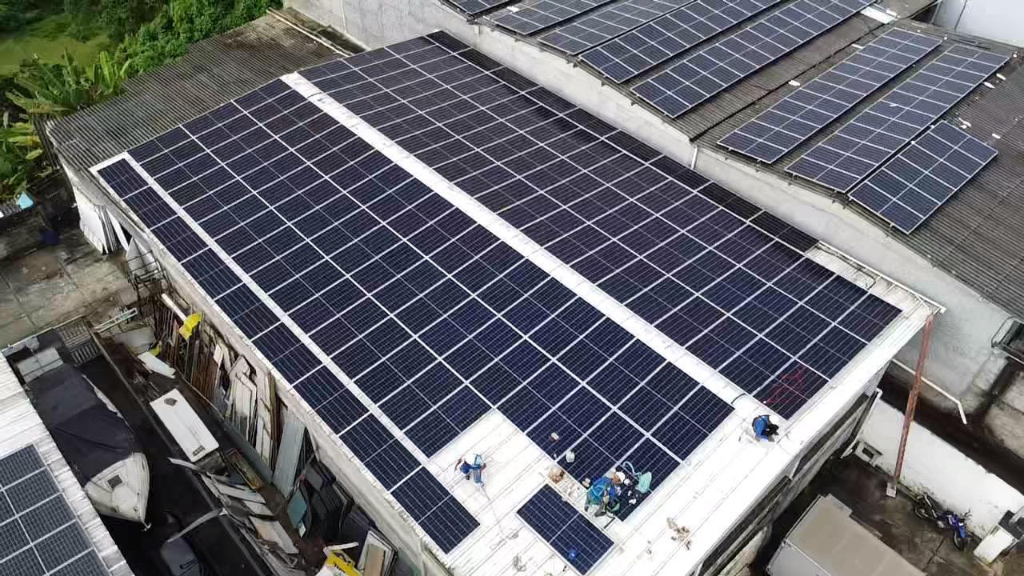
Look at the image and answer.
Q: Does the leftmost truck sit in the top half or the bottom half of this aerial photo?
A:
bottom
